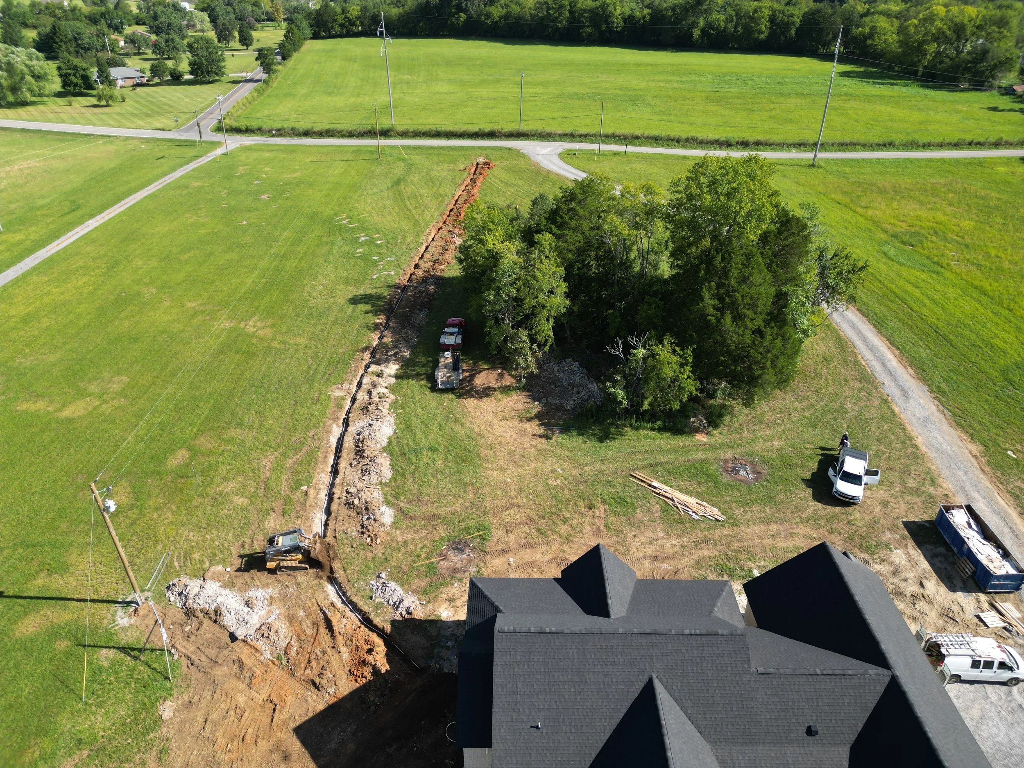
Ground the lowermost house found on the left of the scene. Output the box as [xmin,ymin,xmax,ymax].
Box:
[85,64,149,88]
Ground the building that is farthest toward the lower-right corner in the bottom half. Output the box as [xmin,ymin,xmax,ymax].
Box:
[458,540,990,768]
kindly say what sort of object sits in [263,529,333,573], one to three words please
work vehicle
